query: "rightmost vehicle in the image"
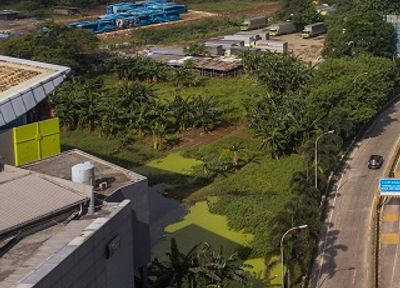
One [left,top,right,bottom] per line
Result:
[365,153,382,169]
